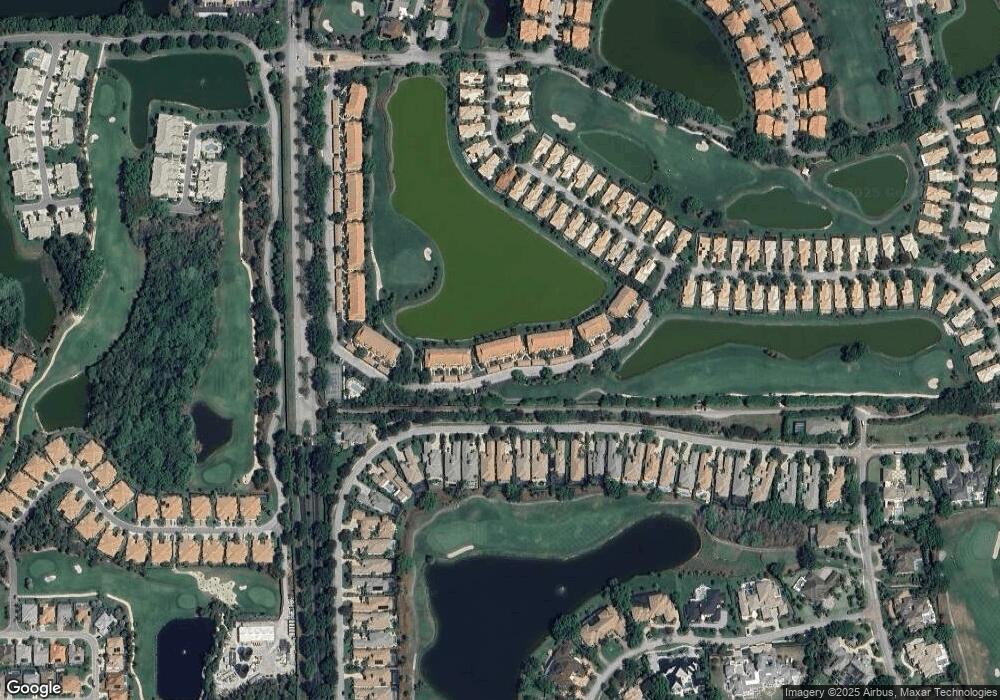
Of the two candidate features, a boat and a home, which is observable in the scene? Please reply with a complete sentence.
There is a home in the scene.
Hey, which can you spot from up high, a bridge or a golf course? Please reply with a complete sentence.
This aerial view contains a golf course.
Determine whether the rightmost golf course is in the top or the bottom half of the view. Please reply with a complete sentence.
The rightmost golf course is in the bottom half of the image.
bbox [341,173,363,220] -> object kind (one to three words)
house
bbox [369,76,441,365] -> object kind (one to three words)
golf course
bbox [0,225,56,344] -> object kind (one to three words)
pond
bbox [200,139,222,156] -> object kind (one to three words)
swimming pool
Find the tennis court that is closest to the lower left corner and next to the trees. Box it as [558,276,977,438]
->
[325,363,342,398]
